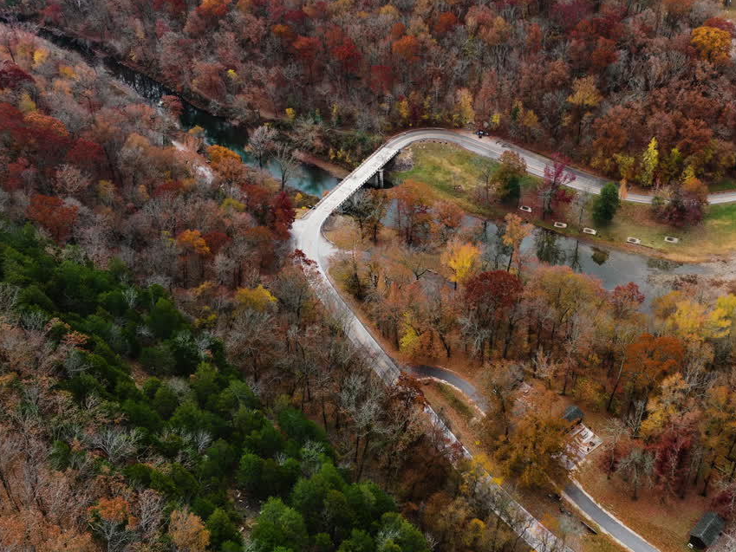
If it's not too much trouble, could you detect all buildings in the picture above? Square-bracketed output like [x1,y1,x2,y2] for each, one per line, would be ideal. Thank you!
[561,403,587,428]
[689,511,728,551]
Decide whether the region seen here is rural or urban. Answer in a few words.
rural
